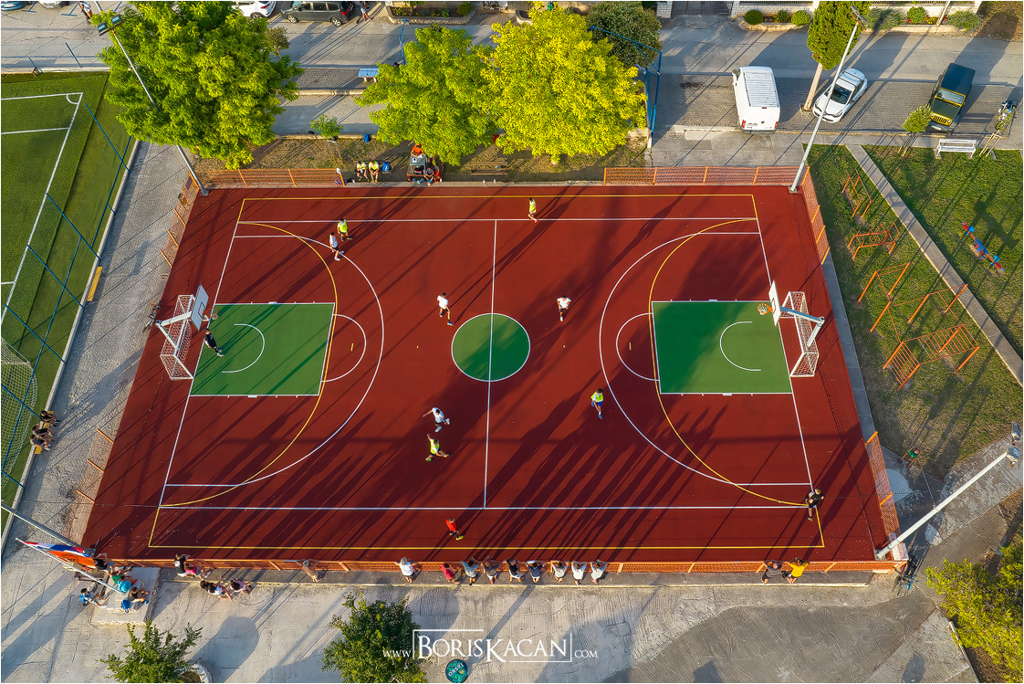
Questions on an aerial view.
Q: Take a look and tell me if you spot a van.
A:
Yes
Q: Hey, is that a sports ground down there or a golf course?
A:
sports ground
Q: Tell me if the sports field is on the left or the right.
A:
left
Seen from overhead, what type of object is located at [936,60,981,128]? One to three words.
car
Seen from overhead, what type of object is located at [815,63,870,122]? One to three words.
car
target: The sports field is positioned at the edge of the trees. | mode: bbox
[0,70,141,570]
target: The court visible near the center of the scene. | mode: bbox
[81,182,895,570]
